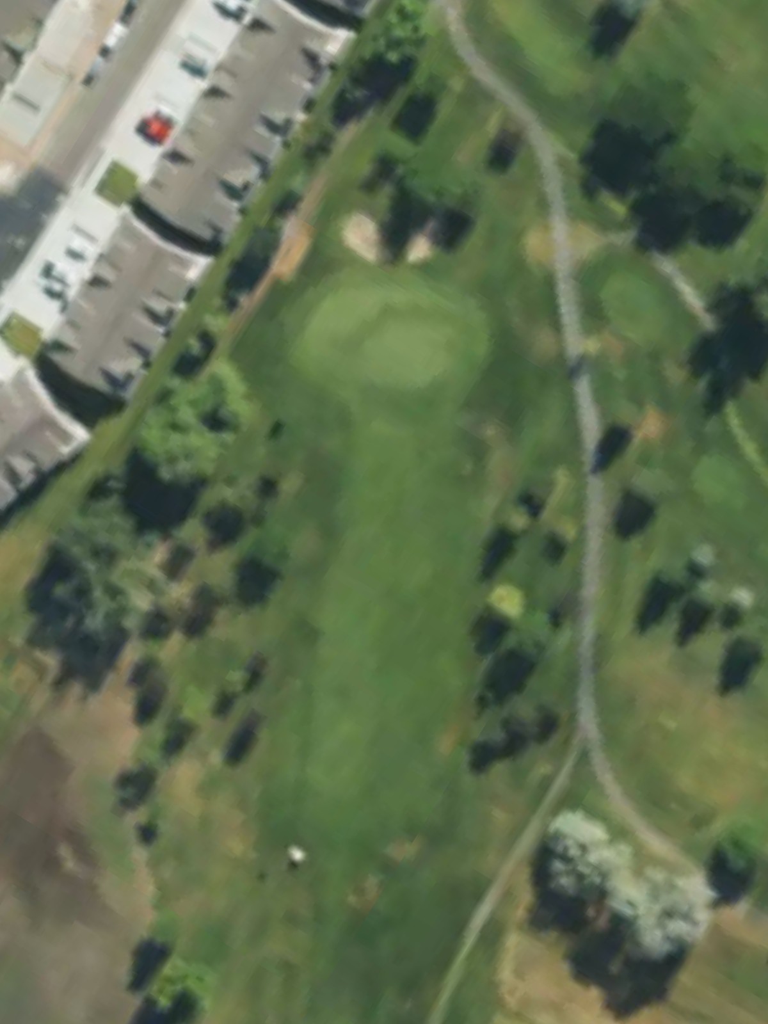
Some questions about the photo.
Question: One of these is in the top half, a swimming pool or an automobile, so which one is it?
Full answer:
You can see an automobile in the top half.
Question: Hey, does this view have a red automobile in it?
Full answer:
Yes, there's a red automobile here.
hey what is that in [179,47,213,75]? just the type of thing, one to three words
car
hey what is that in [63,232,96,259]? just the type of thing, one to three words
car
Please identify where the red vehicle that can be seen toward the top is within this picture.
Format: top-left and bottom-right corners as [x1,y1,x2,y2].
[138,112,173,142]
